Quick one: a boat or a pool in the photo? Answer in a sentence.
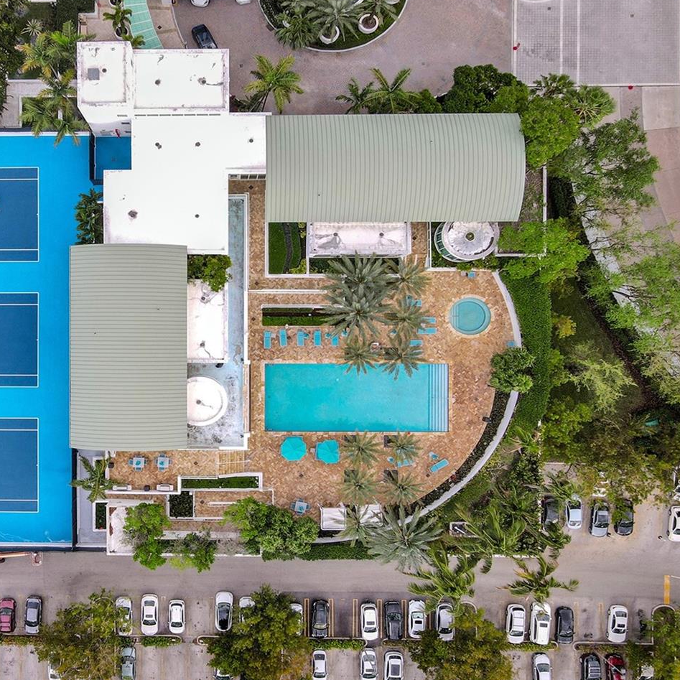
The image shows a pool.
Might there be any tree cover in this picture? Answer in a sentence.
Yes, tree cover can be seen from above here.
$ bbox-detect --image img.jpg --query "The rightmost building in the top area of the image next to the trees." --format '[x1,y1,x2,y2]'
[70,42,529,451]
